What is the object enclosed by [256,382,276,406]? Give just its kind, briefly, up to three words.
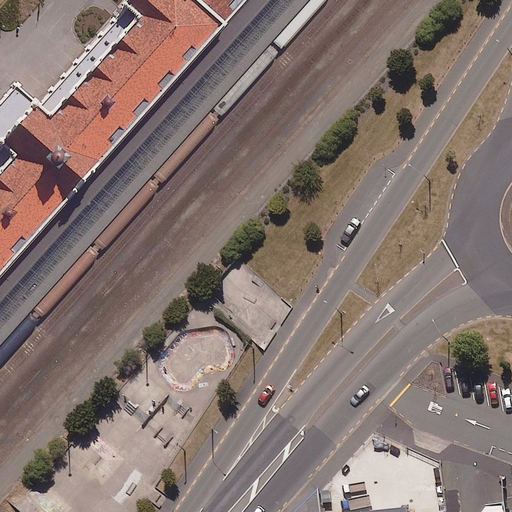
car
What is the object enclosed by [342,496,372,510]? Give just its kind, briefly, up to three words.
vehicle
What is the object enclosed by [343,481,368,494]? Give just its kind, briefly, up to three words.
vehicle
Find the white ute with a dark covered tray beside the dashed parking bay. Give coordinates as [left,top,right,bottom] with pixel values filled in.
[338,217,362,246]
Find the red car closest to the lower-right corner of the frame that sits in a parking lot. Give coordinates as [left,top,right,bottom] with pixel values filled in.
[487,381,500,408]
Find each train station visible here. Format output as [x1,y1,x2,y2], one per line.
[0,0,311,348]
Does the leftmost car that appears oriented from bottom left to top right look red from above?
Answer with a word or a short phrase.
Yes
